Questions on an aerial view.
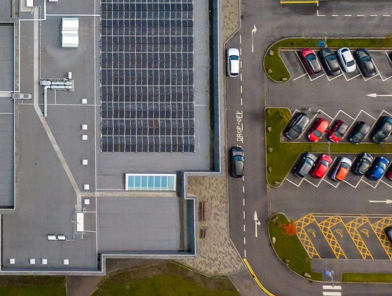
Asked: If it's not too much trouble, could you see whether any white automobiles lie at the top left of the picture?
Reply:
No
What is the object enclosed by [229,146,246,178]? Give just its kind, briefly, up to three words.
car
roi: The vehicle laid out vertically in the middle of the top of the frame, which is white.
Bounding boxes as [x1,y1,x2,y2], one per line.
[226,48,239,77]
